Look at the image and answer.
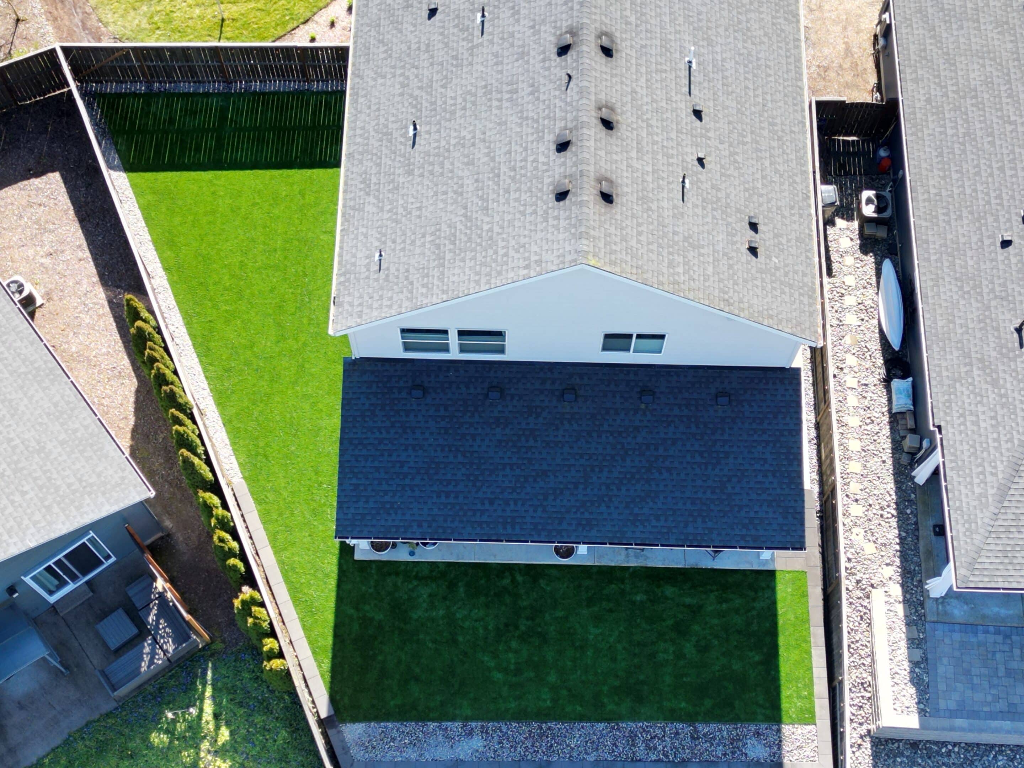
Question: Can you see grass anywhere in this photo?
Yes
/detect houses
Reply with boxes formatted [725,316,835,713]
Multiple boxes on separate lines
[329,0,823,560]
[870,0,1024,601]
[0,277,165,626]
